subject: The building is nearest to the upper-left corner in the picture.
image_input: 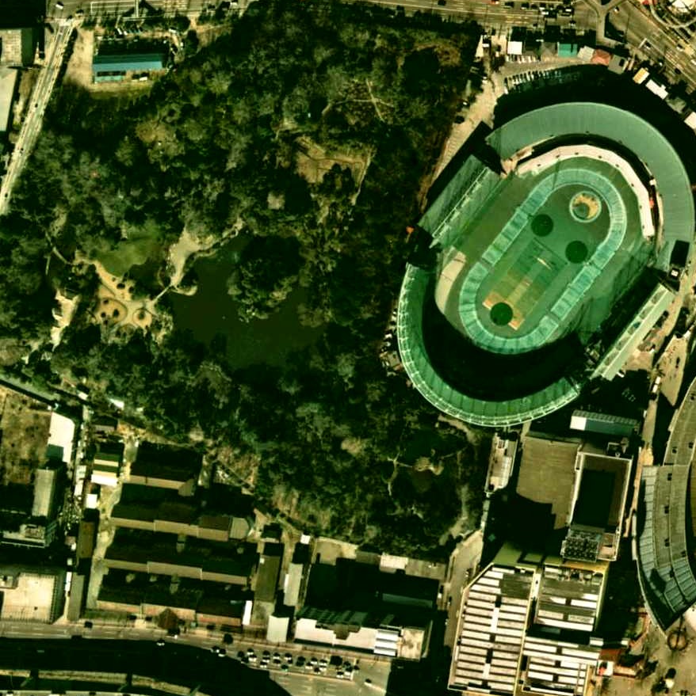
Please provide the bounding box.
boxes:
[0,27,40,66]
